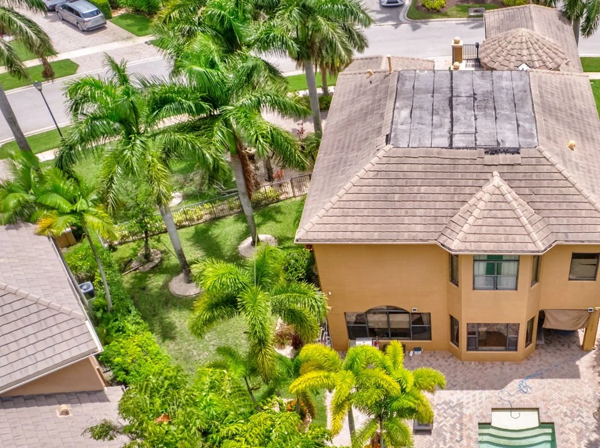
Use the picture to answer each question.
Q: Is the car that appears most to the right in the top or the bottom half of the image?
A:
top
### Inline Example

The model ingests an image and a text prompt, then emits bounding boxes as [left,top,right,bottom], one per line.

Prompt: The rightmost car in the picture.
[53,0,103,27]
